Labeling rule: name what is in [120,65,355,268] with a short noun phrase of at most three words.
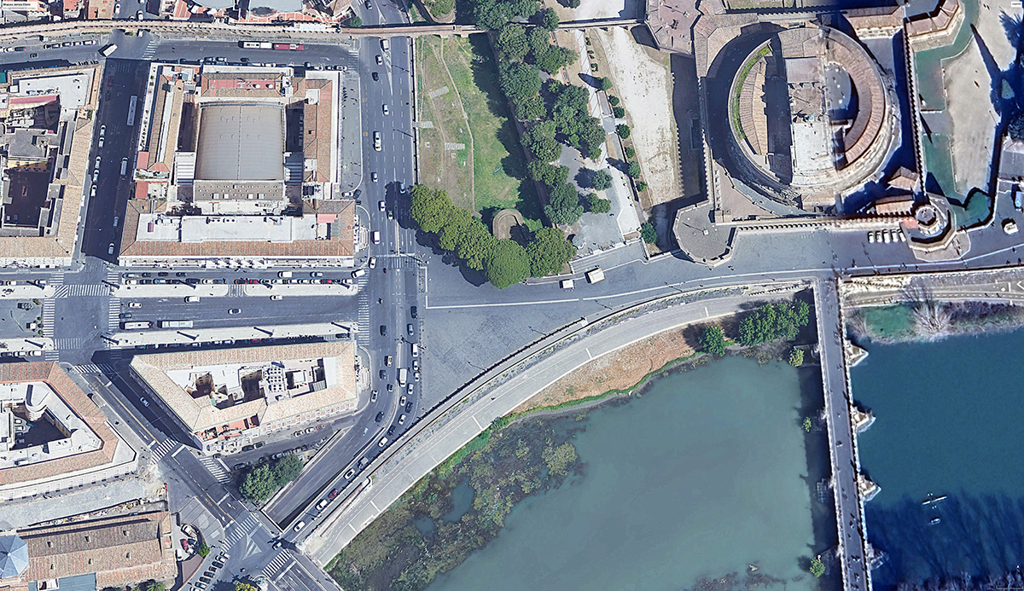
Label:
building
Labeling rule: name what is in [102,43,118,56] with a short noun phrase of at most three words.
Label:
vehicle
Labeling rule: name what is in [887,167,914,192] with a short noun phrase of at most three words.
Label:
building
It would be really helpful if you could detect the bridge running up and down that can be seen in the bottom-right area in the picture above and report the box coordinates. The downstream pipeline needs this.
[811,271,883,591]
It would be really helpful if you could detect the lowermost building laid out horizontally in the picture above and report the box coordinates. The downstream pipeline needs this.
[0,512,176,591]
